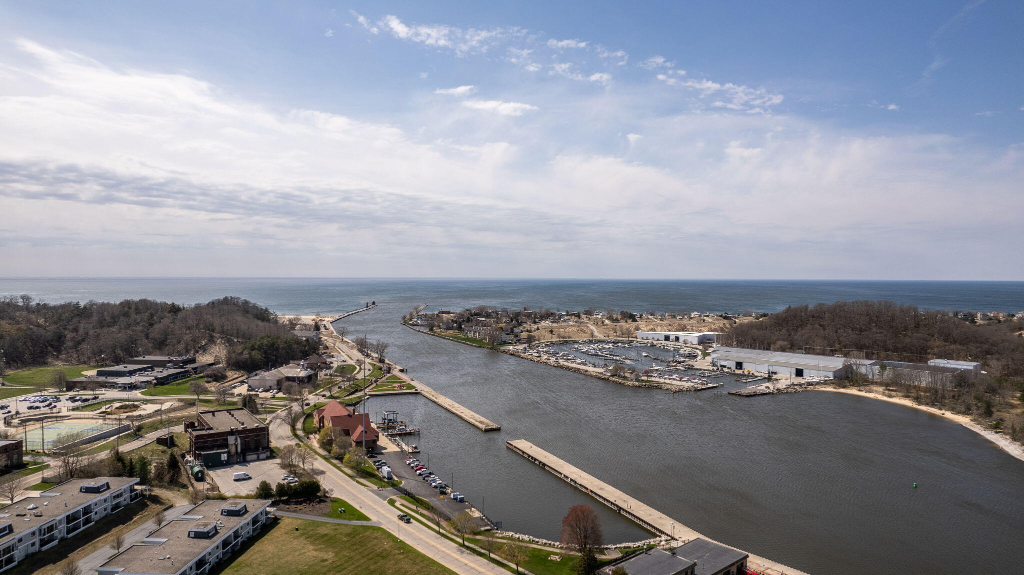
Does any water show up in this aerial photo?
Yes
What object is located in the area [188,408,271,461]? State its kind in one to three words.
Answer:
building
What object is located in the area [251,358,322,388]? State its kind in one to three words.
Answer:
building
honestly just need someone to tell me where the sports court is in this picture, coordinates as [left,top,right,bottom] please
[16,422,122,449]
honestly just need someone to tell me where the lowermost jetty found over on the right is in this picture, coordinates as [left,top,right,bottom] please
[504,440,808,575]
